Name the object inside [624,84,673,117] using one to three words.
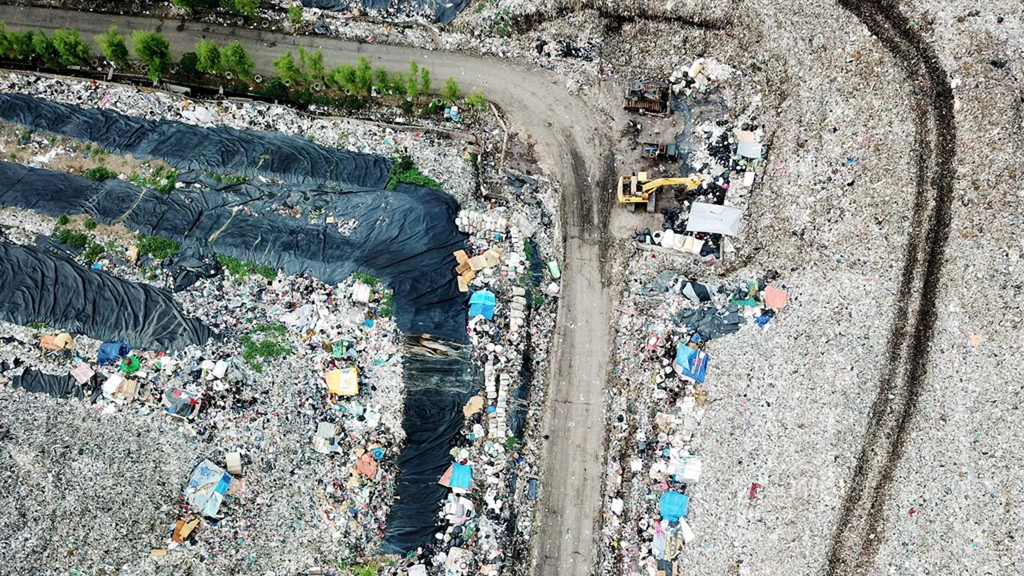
work vehicle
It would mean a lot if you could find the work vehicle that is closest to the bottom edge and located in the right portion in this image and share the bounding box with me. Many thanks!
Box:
[619,174,711,211]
